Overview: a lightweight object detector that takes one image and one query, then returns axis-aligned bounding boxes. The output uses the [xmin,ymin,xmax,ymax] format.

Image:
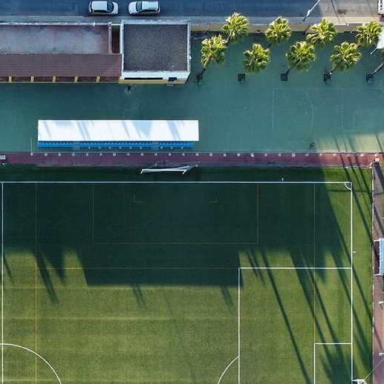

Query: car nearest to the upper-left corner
[89,0,118,16]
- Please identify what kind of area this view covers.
sports ground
